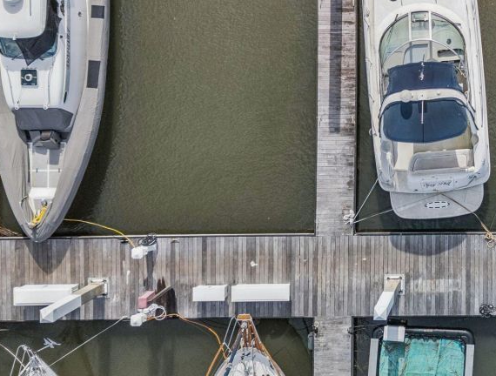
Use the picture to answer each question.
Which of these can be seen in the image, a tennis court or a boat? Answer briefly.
boat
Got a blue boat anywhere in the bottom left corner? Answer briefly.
No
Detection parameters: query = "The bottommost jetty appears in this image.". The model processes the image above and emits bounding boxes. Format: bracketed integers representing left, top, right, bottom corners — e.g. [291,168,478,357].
[312,318,357,376]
